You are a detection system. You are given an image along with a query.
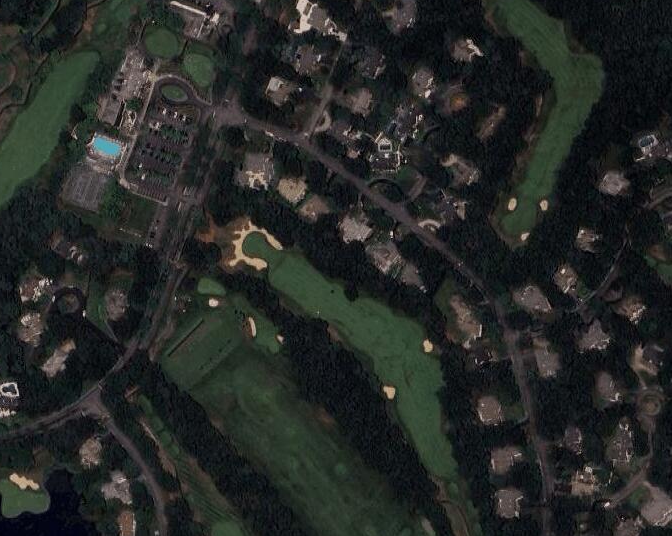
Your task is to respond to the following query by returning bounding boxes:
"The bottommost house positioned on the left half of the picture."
[118,513,136,536]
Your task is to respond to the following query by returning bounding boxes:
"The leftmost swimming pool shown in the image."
[0,383,20,397]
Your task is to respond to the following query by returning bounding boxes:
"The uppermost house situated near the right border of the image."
[637,139,672,160]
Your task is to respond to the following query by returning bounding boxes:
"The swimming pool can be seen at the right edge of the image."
[640,134,656,147]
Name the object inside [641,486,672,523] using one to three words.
house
